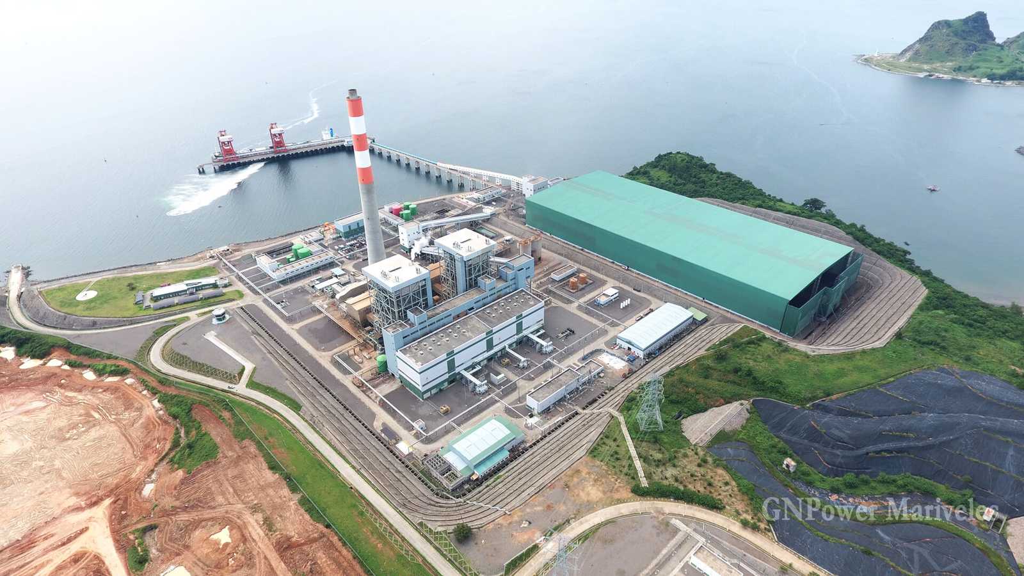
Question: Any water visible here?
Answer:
Yes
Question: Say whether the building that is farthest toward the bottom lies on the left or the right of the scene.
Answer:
right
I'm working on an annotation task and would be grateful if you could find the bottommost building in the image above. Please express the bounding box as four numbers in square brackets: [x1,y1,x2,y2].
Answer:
[673,529,753,576]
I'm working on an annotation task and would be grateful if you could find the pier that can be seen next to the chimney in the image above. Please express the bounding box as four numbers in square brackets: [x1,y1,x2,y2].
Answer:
[368,141,486,188]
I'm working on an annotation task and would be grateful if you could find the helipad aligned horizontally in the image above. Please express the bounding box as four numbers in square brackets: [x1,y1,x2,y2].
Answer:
[73,289,100,301]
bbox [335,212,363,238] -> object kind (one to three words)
building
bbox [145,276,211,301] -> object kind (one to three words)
building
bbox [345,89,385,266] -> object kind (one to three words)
chimney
